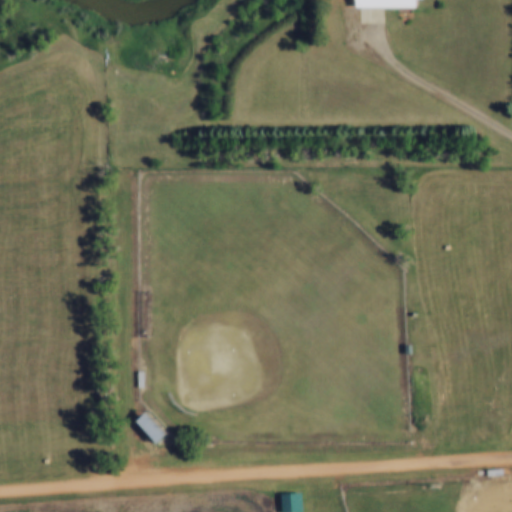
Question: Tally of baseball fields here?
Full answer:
In total, there is 1 baseball field in the scene.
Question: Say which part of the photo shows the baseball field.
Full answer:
The baseball field is located in the center region of the scene.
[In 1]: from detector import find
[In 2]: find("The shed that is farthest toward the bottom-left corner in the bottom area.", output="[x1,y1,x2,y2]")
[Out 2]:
[136,412,166,444]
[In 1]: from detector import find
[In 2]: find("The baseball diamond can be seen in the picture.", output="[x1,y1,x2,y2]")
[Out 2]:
[148,182,404,438]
